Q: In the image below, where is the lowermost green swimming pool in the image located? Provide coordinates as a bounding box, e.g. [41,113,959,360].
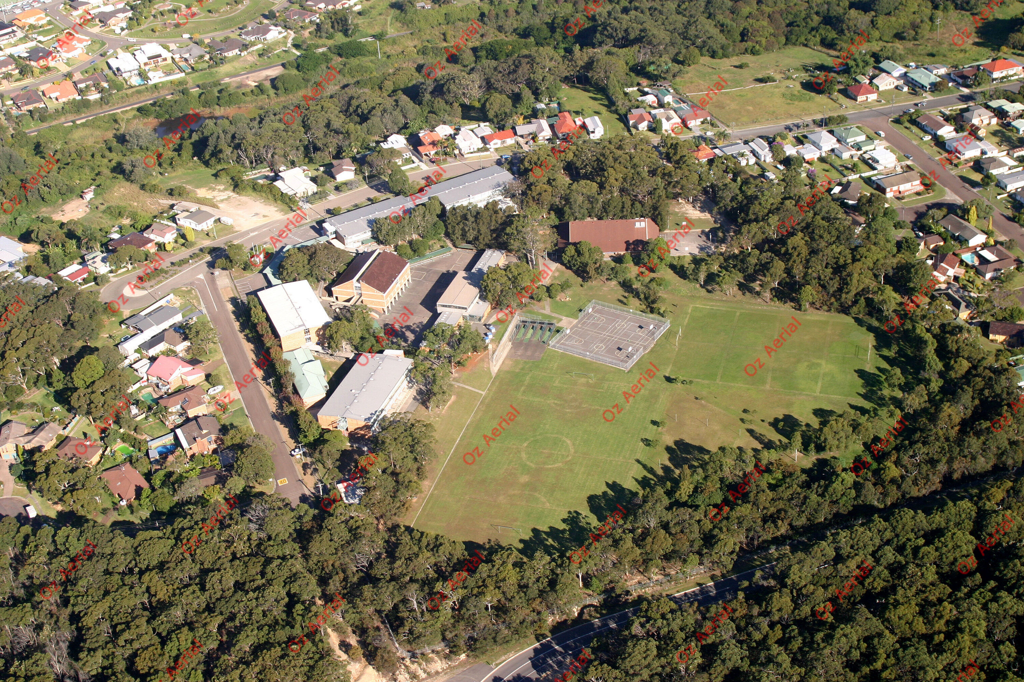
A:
[111,442,140,457]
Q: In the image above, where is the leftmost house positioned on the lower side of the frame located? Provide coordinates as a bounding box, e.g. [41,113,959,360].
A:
[0,420,63,453]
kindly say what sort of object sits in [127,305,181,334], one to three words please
house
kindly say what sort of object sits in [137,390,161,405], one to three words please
swimming pool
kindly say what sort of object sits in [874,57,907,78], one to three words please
shed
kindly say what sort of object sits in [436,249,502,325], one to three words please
building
